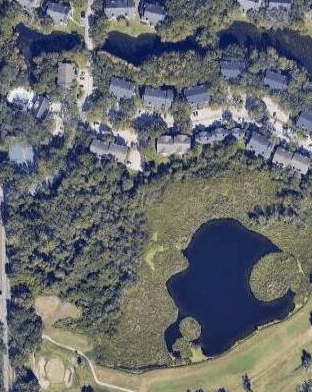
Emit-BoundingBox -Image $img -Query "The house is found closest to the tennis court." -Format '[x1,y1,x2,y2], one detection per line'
[30,94,54,119]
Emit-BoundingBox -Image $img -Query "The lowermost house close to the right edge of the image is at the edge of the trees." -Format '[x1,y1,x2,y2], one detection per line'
[271,147,312,176]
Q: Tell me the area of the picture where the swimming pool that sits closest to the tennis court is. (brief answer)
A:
top left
